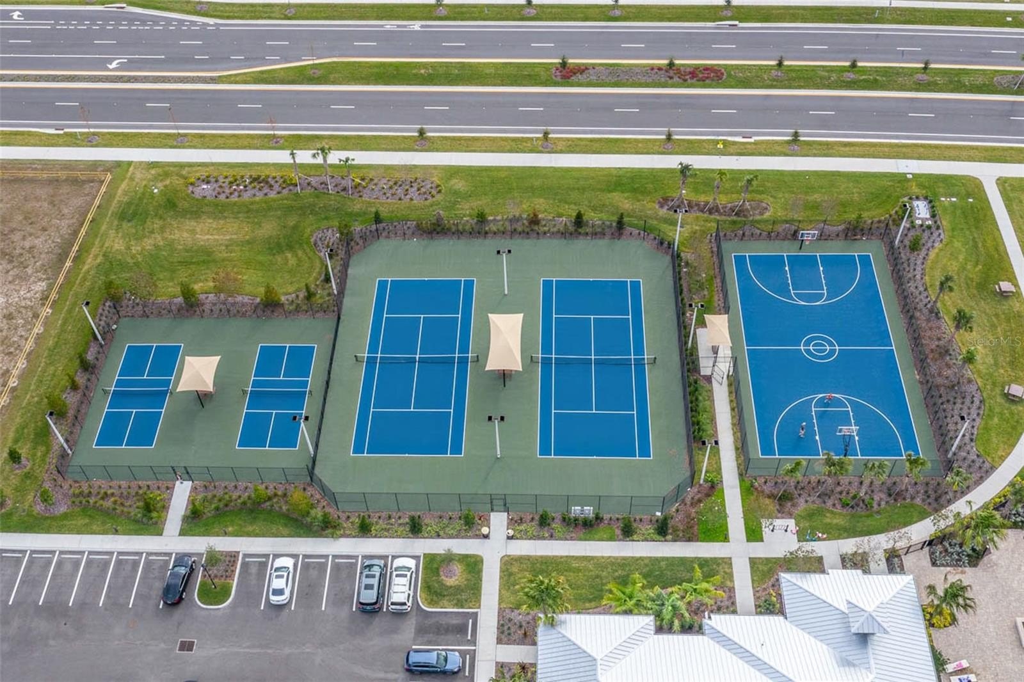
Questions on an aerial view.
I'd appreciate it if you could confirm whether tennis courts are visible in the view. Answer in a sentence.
Yes, I can see a tennis court in this picture.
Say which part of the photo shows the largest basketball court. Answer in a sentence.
You can find the largest basketball court in the right area of the picture.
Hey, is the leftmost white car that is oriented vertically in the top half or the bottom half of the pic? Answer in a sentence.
You can find the leftmost white car that is oriented vertically in the bottom half.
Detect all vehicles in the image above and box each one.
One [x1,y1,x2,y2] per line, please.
[269,556,295,606]
[161,554,196,606]
[404,649,462,677]
[389,559,416,612]
[358,560,385,613]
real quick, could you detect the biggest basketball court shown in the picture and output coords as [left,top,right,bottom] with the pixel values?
[733,253,920,458]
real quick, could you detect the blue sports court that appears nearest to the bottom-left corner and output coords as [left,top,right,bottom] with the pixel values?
[93,344,183,447]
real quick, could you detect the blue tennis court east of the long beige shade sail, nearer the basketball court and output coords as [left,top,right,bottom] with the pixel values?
[530,279,656,458]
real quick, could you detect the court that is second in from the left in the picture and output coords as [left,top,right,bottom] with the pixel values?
[235,344,316,449]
